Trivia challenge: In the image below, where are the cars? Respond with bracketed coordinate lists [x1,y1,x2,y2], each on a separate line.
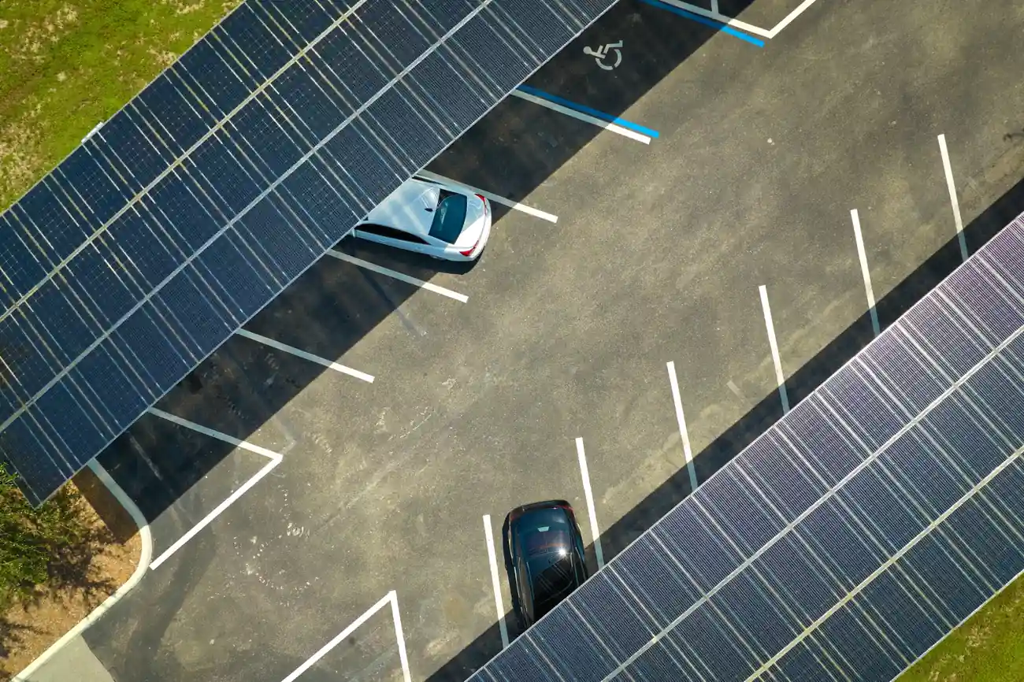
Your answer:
[310,145,492,259]
[506,496,599,682]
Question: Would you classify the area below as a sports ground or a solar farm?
solar farm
